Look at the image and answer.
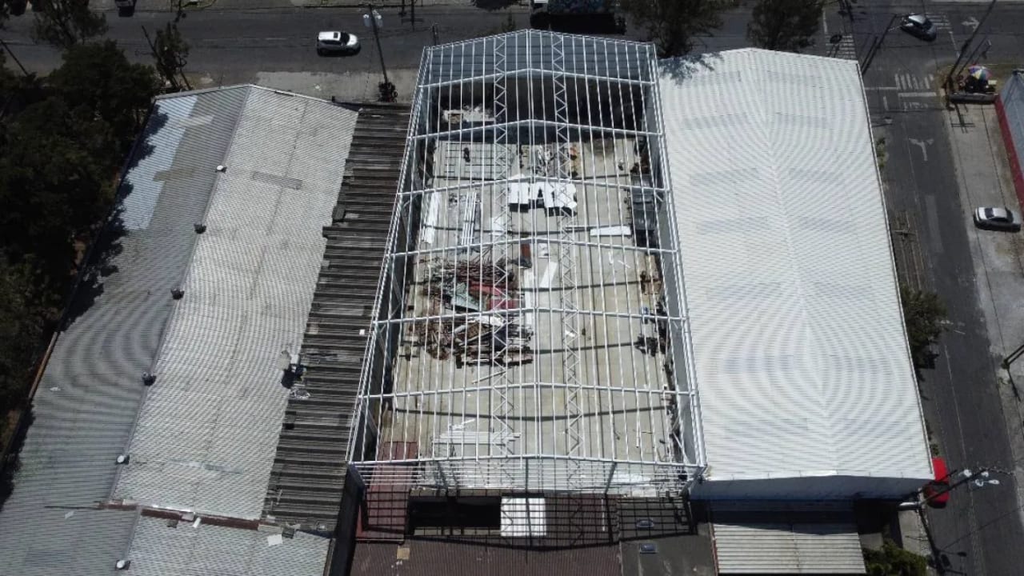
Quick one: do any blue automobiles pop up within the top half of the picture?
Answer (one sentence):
No, looking within the top half of the picture, there is no blue automobile.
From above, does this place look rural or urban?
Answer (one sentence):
The area is urban.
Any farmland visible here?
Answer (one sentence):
No, there's no farmland in this view.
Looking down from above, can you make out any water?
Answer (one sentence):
No, water can't be seen anywhere here.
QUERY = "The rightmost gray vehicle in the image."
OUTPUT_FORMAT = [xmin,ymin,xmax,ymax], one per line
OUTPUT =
[974,205,1024,228]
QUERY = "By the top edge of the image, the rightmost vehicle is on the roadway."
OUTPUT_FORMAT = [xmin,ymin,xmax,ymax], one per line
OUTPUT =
[898,12,940,36]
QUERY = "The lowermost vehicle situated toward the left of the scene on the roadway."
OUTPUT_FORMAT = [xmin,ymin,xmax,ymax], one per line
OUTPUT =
[315,29,357,51]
